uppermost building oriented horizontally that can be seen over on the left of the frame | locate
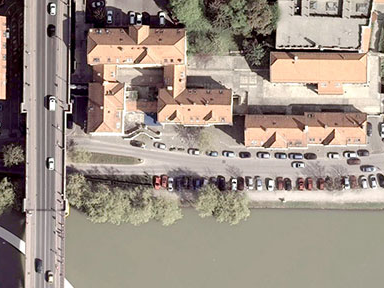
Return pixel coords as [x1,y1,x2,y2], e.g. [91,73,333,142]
[88,25,186,67]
